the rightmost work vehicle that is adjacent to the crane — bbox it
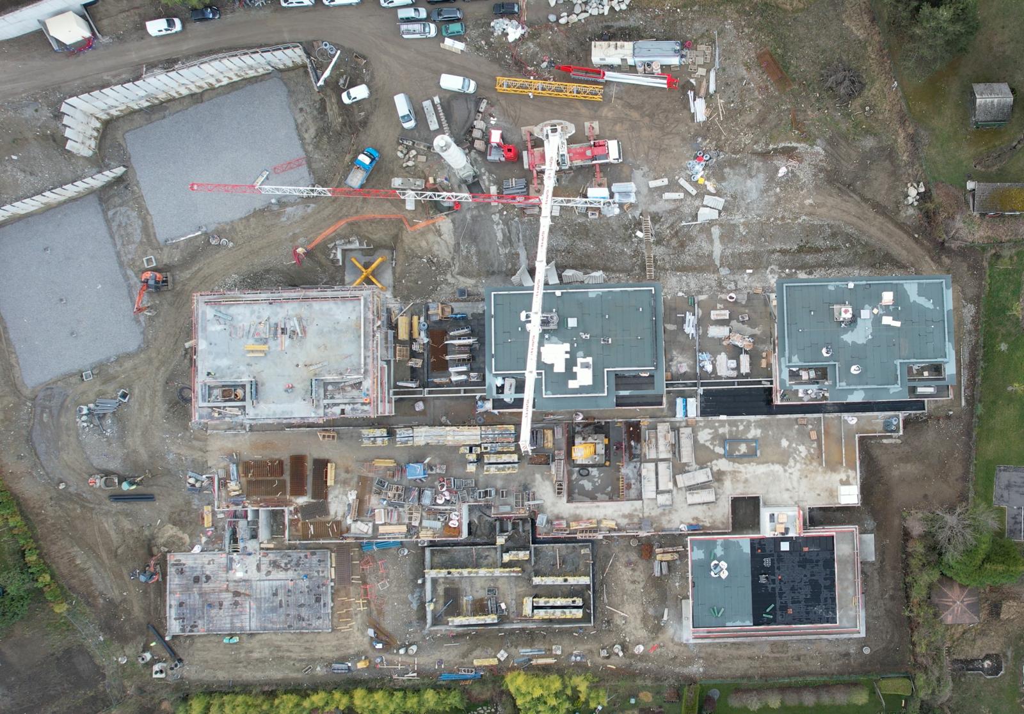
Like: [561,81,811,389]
[483,123,519,160]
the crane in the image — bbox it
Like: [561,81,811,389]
[509,118,623,458]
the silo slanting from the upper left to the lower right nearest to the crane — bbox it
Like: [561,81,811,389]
[434,134,483,192]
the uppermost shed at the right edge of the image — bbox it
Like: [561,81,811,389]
[973,75,1021,118]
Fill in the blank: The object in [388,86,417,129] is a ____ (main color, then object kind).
white van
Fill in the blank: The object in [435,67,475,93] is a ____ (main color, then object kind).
white vehicle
